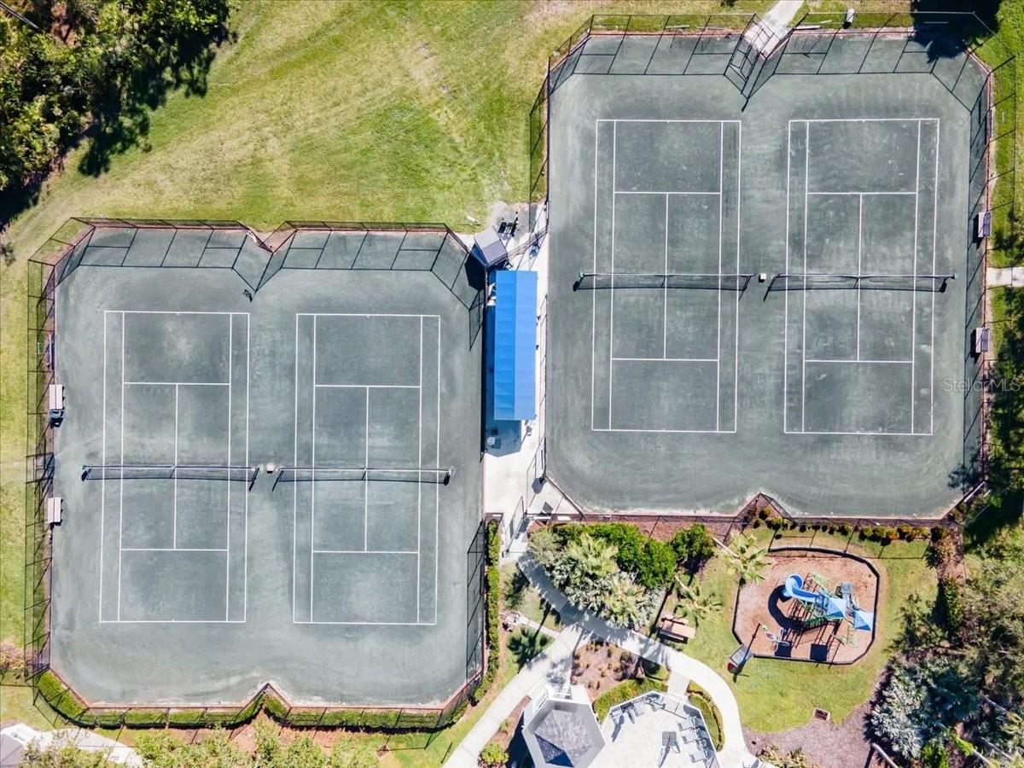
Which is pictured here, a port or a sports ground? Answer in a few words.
sports ground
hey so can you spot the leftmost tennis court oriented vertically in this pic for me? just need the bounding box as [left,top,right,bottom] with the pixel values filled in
[51,228,271,707]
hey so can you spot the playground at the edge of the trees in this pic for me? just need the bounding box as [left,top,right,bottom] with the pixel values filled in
[733,548,880,666]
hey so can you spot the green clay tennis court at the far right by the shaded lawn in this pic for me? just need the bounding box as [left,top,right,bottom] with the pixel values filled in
[760,34,989,518]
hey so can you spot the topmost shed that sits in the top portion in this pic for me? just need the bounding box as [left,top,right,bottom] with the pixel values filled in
[474,227,508,269]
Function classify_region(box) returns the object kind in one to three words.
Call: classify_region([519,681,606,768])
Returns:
building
